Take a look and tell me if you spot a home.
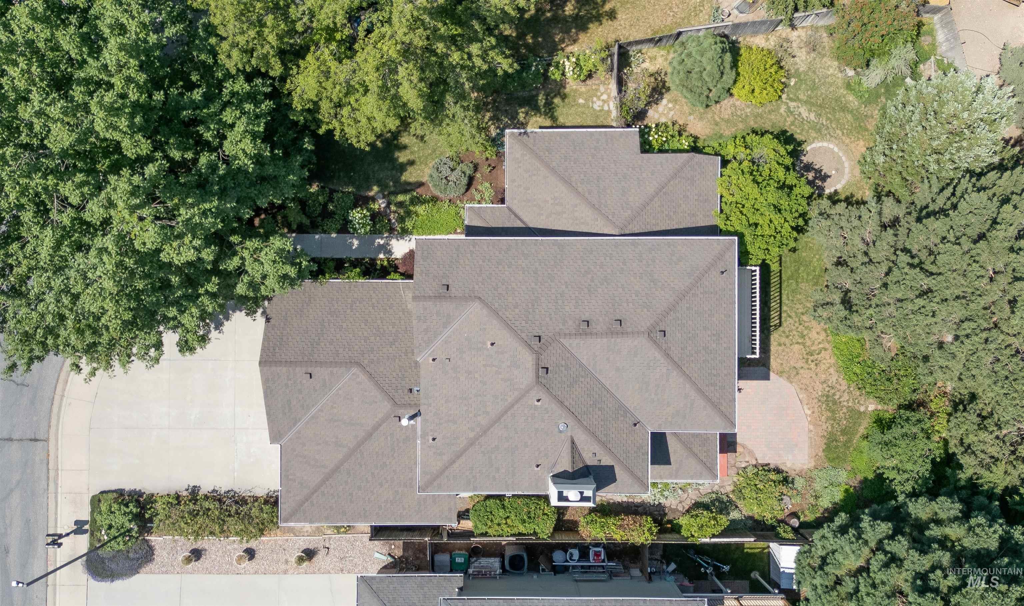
Yes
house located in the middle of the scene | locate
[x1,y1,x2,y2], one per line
[257,127,760,528]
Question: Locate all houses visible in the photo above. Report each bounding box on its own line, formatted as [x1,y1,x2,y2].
[355,564,710,606]
[257,127,760,528]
